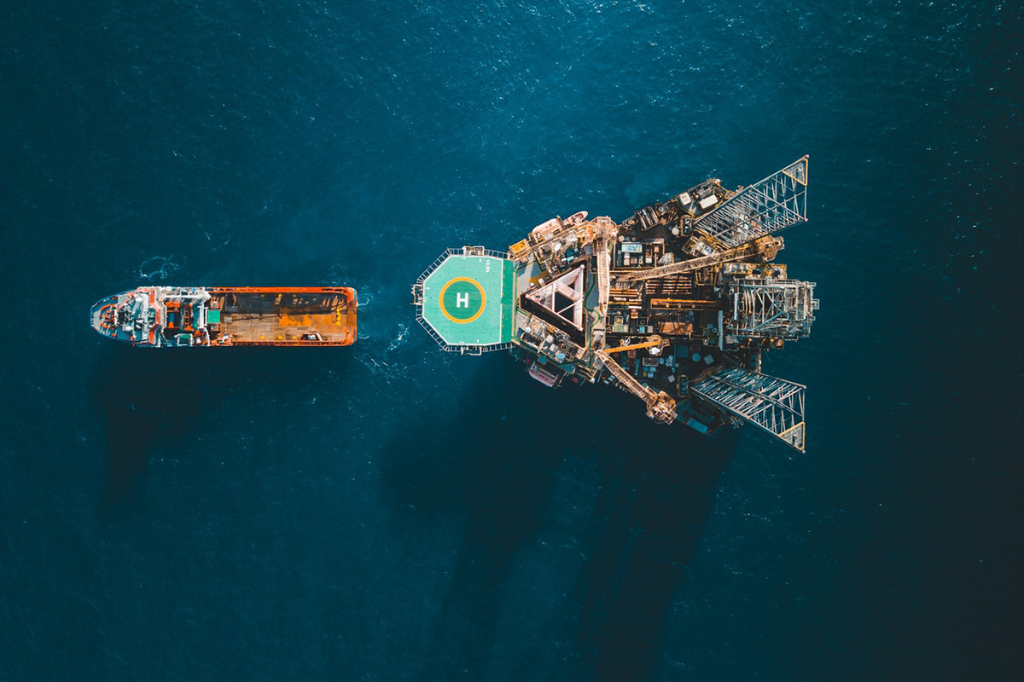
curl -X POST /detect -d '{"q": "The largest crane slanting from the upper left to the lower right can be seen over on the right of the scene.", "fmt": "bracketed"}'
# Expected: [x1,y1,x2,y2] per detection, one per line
[593,348,681,424]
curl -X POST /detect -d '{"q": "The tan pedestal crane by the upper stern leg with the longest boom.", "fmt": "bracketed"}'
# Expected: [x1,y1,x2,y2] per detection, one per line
[617,235,783,285]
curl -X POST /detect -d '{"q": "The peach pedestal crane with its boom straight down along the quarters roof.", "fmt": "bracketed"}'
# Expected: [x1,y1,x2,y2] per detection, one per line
[593,214,613,321]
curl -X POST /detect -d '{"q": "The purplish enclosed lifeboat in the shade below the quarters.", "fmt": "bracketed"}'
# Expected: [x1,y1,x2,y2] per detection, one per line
[530,370,555,386]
